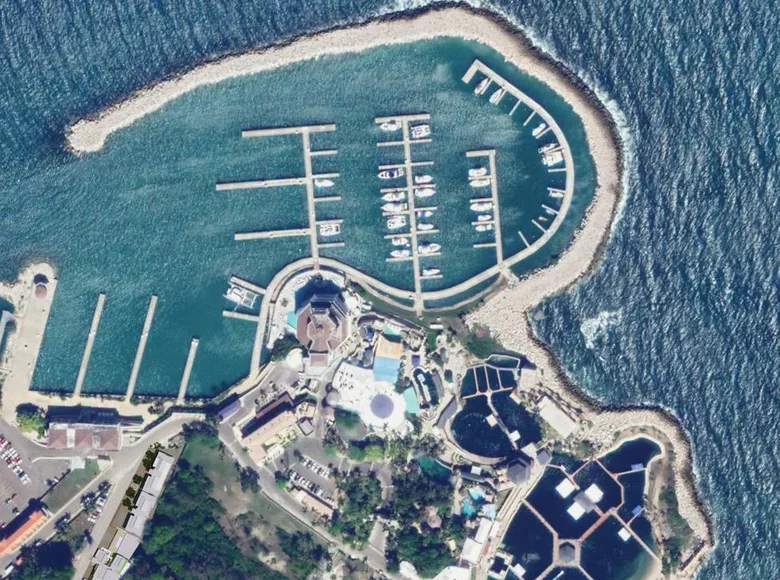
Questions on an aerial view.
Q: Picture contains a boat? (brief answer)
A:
Yes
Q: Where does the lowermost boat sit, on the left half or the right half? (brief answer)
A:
left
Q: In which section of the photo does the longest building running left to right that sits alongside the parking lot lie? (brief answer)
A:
bottom left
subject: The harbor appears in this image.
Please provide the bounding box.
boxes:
[28,258,517,405]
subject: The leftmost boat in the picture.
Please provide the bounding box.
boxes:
[222,284,260,309]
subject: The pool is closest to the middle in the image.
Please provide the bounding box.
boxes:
[379,325,404,338]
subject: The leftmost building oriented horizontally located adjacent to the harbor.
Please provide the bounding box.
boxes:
[48,423,120,451]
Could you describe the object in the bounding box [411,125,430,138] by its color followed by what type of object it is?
white boat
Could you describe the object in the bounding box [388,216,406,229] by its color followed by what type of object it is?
white boat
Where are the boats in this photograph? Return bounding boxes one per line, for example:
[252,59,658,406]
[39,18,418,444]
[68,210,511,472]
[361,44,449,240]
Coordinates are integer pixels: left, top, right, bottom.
[222,284,260,309]
[423,269,440,276]
[417,244,440,252]
[542,150,564,167]
[378,169,404,178]
[476,77,490,93]
[478,215,491,221]
[417,223,433,230]
[320,223,340,236]
[468,168,487,176]
[392,238,408,245]
[491,87,504,104]
[415,176,433,184]
[382,203,407,211]
[411,125,430,138]
[417,211,433,217]
[475,225,486,231]
[470,179,490,187]
[314,179,333,187]
[414,188,435,197]
[382,193,404,201]
[380,121,401,130]
[548,191,564,197]
[470,203,492,211]
[388,216,406,229]
[391,251,410,258]
[532,122,547,136]
[539,143,558,153]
